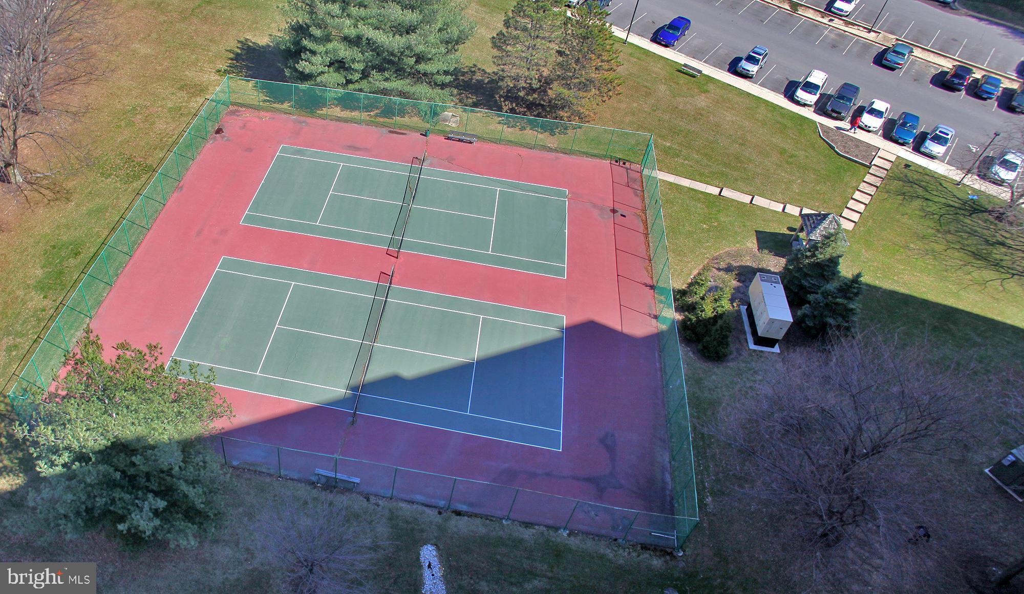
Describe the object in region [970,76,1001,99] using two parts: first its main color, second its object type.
blue car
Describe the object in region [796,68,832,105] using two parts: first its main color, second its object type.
white car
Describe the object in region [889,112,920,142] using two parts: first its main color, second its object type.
blue car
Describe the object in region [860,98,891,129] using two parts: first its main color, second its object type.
white car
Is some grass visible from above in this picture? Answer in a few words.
Yes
